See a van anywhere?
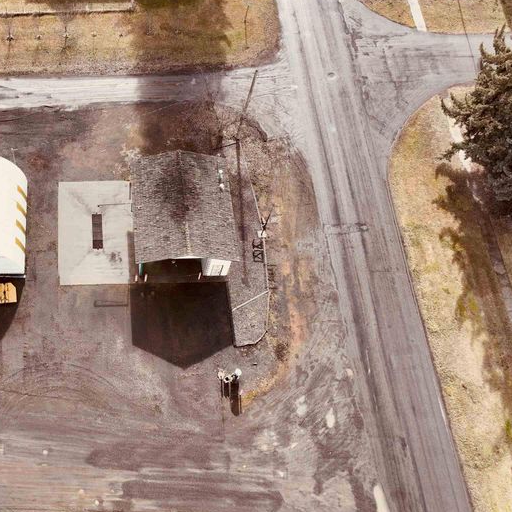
No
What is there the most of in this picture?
paved ground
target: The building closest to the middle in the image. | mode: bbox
[128,145,243,278]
